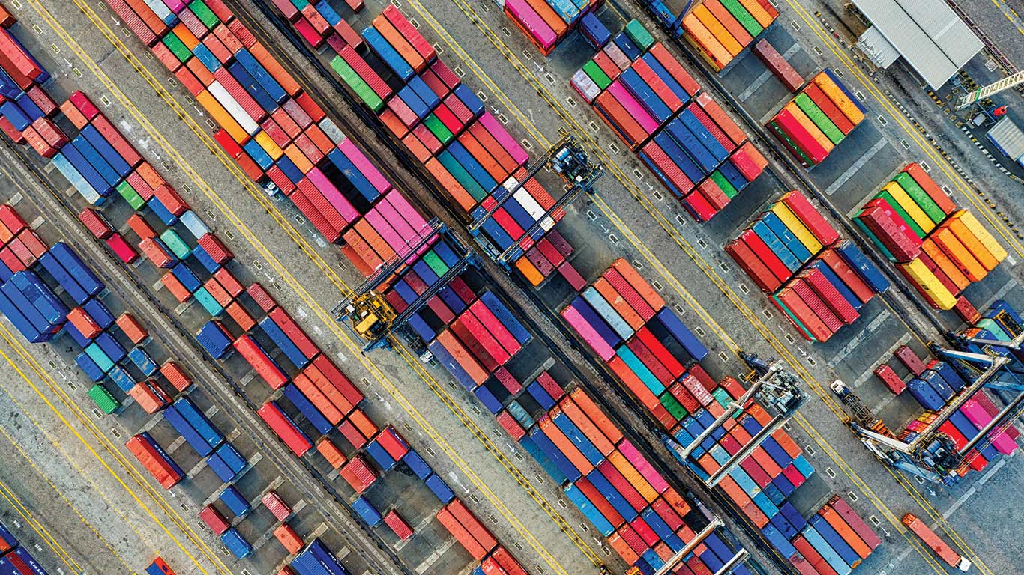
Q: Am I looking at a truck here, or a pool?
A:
truck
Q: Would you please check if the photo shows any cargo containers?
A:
Yes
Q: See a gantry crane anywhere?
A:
Yes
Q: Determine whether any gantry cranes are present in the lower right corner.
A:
Yes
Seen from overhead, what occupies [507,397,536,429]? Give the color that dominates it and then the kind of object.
blue shipping container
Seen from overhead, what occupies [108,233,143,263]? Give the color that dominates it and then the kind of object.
red shipping container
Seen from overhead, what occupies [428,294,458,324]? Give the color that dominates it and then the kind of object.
red shipping container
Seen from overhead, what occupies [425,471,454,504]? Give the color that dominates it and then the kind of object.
blue shipping container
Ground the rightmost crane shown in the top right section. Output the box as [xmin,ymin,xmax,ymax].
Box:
[945,70,1024,114]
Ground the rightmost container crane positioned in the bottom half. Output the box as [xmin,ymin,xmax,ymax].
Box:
[947,329,1024,378]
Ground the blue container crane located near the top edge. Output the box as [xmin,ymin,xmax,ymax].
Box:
[642,0,692,38]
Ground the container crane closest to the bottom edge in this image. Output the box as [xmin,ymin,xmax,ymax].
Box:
[651,485,751,575]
